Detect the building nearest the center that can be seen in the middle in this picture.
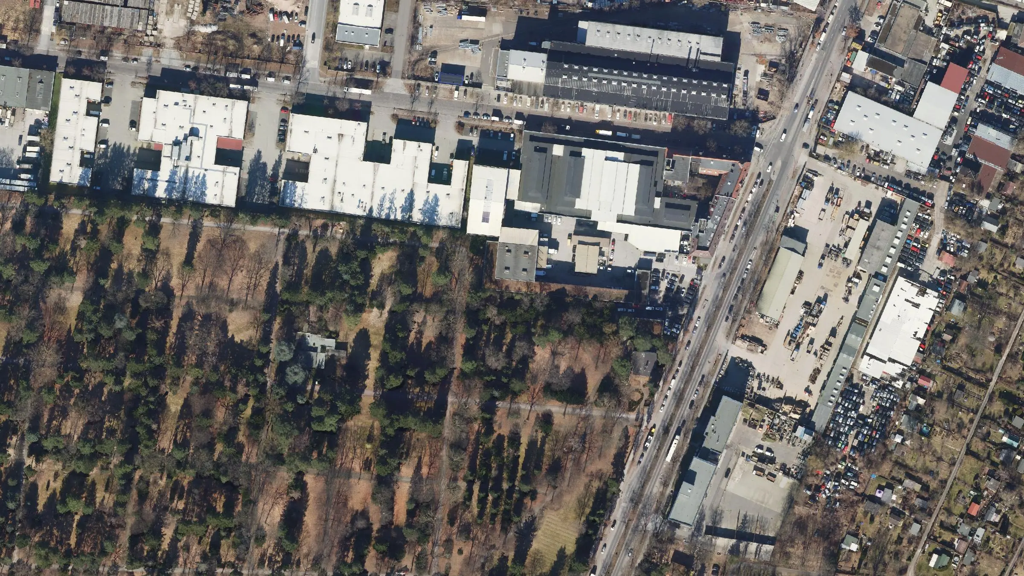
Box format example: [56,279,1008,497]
[496,227,548,282]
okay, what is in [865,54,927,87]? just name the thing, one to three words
building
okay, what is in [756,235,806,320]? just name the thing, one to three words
barn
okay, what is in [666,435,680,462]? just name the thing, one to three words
vehicle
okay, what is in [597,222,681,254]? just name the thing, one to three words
shed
